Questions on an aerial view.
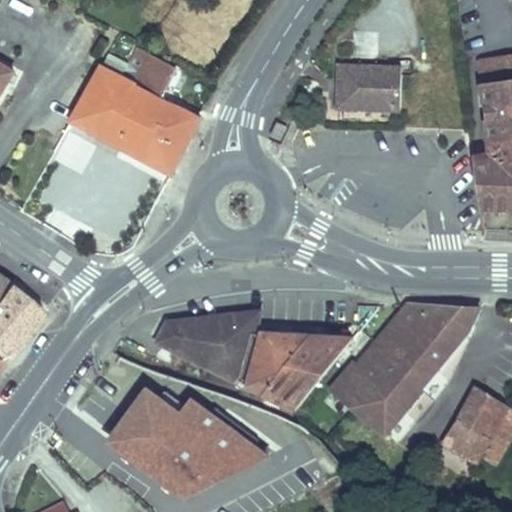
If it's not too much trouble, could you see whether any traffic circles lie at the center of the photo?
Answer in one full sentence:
Yes, a traffic circle is visible at the center of the photo.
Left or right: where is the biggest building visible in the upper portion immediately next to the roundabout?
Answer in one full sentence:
The biggest building visible in the upper portion immediately next to the roundabout appears in the left half of the scene.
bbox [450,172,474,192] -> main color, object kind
white car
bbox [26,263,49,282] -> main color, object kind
white car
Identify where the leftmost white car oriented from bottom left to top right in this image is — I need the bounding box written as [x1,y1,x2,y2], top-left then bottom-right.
[32,332,49,354]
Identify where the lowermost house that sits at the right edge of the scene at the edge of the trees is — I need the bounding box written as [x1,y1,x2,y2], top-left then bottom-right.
[442,386,512,466]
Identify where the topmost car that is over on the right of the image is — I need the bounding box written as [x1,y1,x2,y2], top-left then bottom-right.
[461,10,480,23]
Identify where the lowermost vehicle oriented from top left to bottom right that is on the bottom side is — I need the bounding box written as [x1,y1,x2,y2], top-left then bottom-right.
[295,466,314,486]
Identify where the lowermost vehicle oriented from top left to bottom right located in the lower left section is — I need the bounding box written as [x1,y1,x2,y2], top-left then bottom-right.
[94,375,117,394]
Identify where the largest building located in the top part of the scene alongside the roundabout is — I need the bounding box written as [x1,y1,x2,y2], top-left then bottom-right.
[70,63,201,180]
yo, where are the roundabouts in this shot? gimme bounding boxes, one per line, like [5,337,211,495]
[186,153,296,261]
